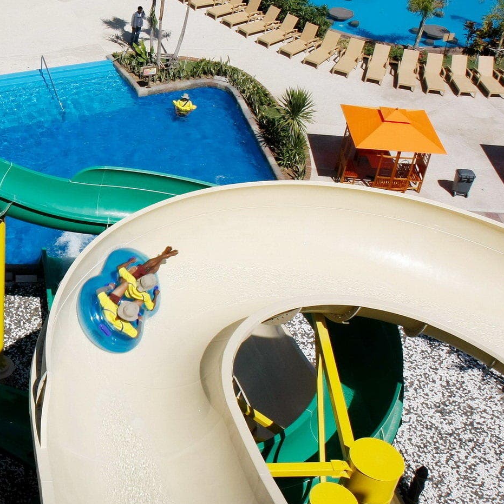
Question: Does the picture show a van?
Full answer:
No, the scene contains no van.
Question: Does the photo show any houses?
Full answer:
No, I can't see a single house in this photo.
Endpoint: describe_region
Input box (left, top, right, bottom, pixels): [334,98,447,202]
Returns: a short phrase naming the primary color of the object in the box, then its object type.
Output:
orange gazebo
